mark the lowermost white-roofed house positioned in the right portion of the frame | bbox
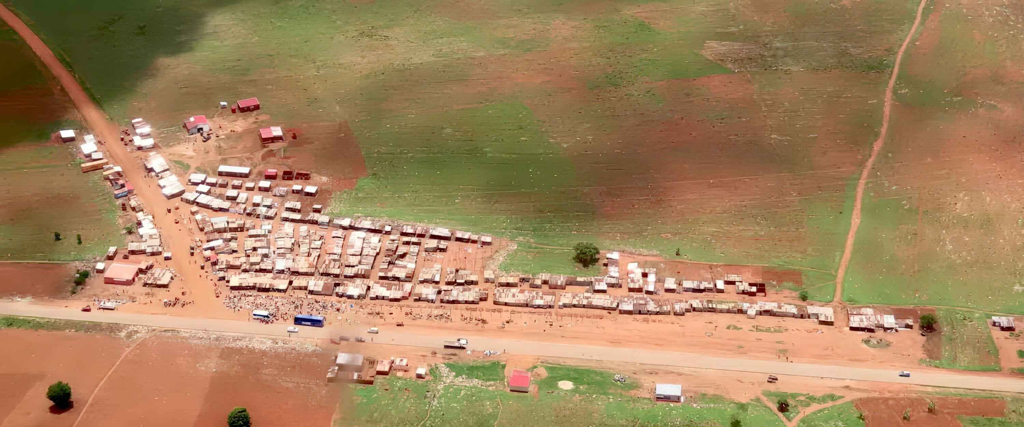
[656,384,681,403]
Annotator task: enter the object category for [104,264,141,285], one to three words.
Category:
building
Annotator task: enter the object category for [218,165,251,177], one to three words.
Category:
house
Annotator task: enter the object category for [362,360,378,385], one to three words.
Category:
shed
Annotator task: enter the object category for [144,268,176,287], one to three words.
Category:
shed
